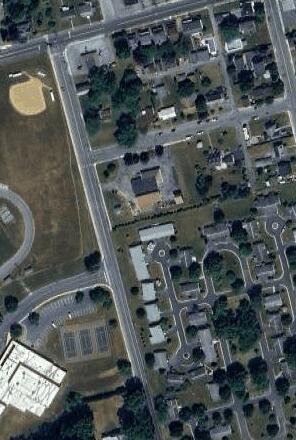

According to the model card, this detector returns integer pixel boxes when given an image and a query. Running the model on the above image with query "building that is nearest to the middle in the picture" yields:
[138,223,174,241]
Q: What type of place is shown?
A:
residential area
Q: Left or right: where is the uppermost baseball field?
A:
left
